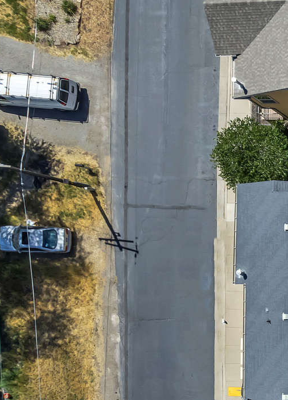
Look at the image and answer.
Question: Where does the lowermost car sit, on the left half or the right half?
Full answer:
The lowermost car appears in the left half of the scene.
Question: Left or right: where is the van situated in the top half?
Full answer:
It is on the left.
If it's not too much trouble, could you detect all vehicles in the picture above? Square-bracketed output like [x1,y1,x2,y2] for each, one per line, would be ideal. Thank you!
[1,219,75,255]
[0,69,82,114]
